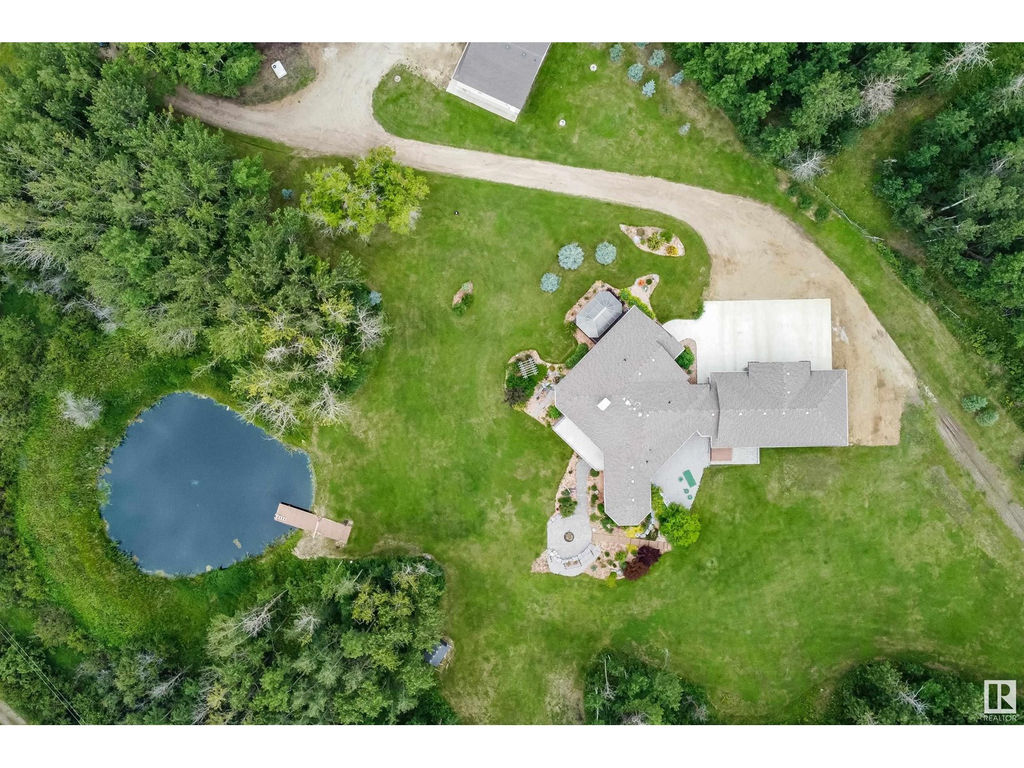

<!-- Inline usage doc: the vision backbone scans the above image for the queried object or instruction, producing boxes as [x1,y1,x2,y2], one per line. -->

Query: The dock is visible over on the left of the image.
[274,501,351,544]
